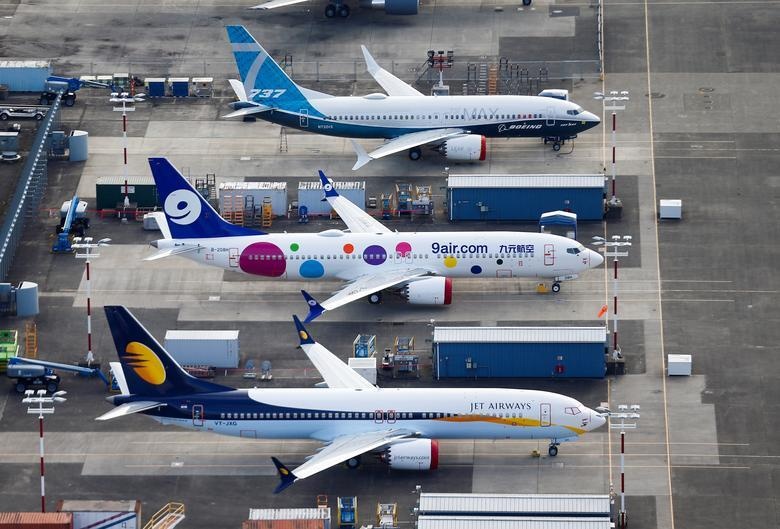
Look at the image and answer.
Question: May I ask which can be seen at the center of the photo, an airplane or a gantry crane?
airplane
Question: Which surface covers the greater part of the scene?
paved ground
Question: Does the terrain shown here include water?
No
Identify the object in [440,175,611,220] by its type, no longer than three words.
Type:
shed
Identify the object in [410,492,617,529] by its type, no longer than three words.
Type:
shed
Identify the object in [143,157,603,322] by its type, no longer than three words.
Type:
airplane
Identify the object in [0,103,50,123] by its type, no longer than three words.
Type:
vehicle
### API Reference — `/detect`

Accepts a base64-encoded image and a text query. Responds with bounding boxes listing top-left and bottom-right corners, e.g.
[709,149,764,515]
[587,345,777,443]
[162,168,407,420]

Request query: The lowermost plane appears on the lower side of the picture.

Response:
[99,306,607,494]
